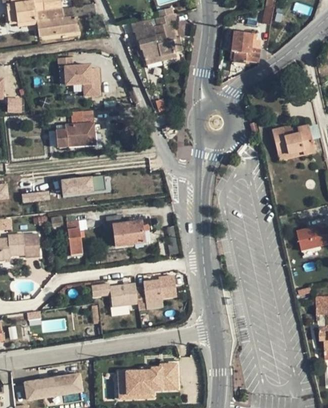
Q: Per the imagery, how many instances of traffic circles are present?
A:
1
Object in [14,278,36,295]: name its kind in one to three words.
swimming pool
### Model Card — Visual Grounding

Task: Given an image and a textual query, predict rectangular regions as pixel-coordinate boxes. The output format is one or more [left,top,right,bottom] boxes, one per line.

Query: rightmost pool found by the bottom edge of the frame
[104,372,118,402]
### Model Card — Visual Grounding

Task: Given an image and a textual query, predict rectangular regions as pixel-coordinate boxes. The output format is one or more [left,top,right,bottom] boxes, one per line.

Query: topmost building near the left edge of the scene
[0,0,80,42]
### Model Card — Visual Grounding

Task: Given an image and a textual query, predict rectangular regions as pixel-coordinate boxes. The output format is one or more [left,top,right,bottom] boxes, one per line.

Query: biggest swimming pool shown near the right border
[291,1,313,17]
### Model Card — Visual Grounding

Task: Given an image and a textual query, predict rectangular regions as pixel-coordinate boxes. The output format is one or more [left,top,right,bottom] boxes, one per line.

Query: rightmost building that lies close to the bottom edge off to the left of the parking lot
[118,361,180,400]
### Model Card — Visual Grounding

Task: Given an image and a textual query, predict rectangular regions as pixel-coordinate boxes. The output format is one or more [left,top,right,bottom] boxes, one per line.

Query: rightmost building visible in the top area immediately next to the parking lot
[270,124,320,162]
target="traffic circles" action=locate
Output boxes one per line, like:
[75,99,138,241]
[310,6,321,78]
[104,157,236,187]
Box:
[188,92,240,149]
